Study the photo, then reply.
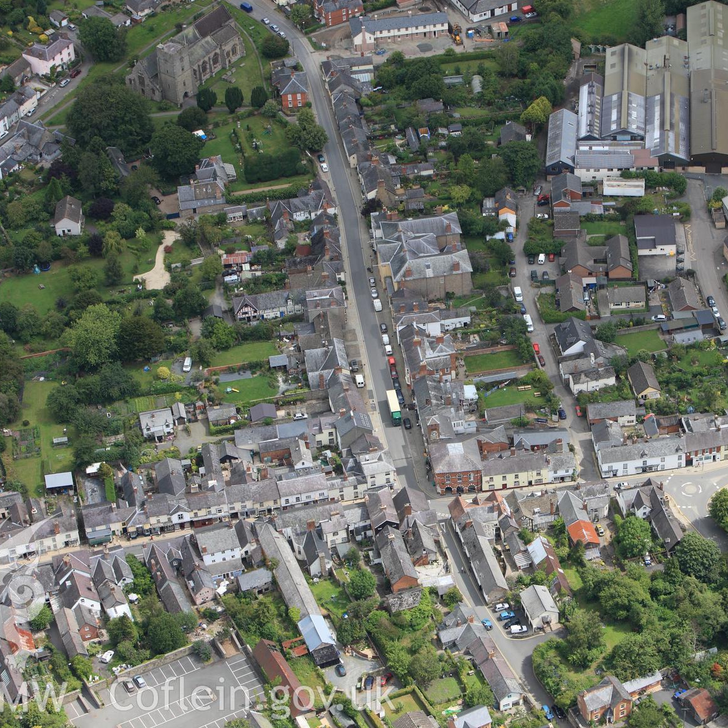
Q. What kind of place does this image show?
residential area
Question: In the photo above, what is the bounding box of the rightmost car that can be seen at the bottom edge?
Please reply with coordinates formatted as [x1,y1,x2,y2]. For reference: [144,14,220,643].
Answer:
[672,687,688,700]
